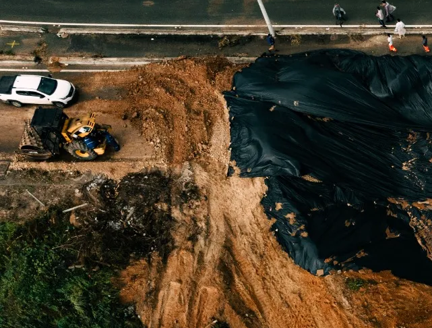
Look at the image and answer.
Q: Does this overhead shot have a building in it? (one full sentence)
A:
No, I can't see a single building in this photo.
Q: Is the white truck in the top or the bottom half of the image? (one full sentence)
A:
The white truck sits in the top half of the picture.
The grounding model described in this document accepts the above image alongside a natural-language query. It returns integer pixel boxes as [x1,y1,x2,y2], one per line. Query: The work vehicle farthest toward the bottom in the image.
[9,107,101,162]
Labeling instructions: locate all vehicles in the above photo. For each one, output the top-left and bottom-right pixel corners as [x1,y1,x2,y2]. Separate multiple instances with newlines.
[9,107,101,162]
[0,71,79,109]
